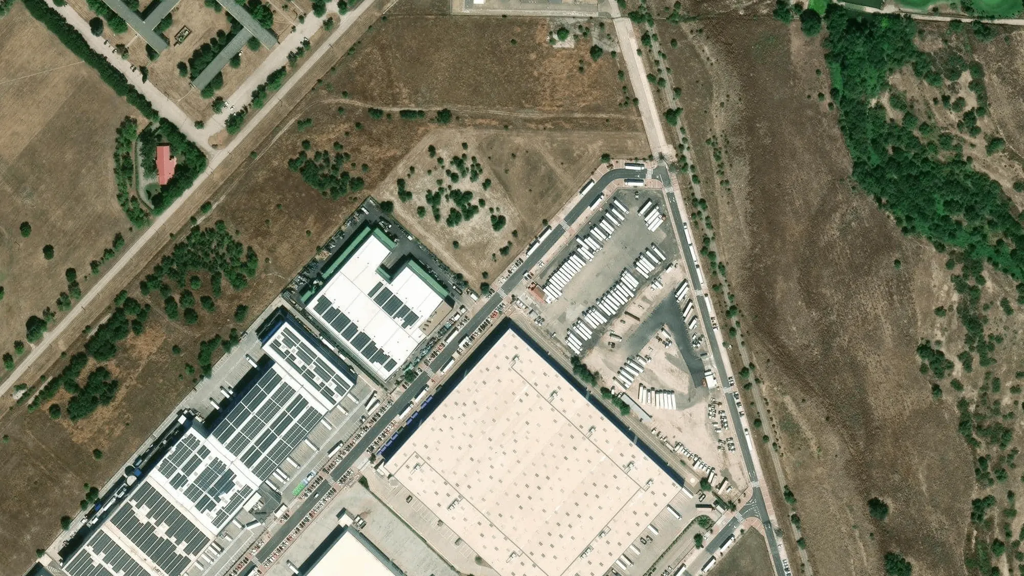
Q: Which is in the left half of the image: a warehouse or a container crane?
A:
warehouse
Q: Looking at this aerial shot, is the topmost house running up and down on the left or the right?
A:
left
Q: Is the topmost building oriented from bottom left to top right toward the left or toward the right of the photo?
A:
left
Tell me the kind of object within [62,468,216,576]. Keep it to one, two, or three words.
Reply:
building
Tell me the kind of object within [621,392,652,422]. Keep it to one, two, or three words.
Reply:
shed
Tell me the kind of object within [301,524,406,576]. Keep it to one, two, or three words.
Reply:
building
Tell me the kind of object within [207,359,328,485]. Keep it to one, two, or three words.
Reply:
warehouse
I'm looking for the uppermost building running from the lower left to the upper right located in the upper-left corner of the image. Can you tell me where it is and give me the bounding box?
[145,0,182,30]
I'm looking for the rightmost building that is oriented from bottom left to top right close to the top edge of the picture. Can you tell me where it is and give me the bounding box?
[192,26,252,90]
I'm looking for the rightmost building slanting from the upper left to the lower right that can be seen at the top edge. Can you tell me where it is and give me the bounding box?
[217,0,281,50]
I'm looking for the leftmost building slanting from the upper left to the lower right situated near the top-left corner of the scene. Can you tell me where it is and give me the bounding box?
[104,0,169,53]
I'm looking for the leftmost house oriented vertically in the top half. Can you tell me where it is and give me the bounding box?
[156,143,176,186]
